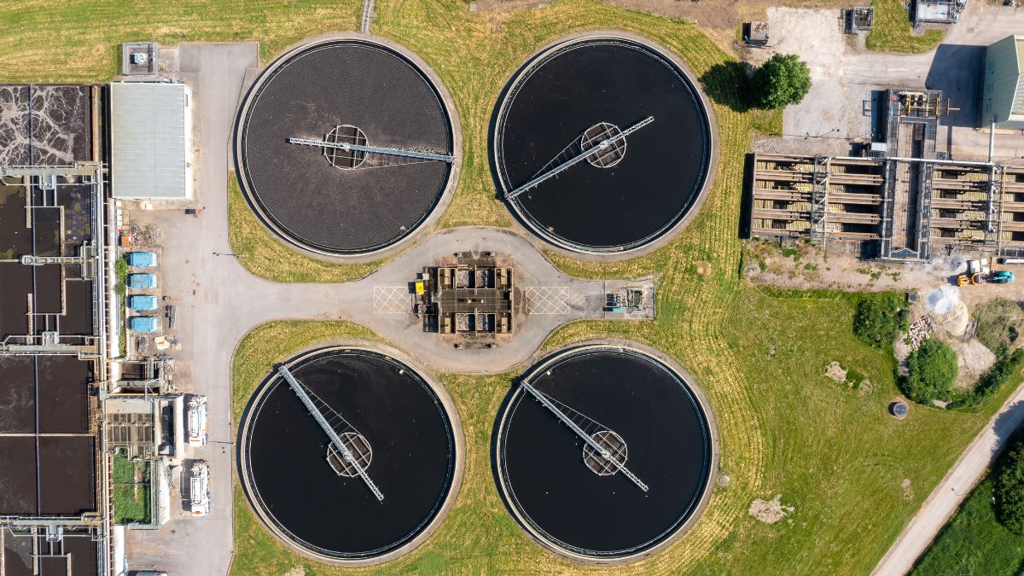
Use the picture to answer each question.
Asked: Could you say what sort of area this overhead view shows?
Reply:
industrial area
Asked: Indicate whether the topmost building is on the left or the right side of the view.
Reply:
right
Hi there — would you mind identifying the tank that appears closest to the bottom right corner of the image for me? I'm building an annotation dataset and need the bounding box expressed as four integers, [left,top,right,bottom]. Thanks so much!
[488,334,719,565]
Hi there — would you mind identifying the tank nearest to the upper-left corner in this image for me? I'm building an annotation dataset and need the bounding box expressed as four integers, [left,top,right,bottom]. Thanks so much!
[233,32,463,263]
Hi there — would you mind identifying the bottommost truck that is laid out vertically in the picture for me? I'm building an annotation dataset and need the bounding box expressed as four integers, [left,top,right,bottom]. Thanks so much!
[192,461,213,514]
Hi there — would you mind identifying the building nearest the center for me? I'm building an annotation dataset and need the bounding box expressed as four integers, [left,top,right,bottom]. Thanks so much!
[423,265,513,334]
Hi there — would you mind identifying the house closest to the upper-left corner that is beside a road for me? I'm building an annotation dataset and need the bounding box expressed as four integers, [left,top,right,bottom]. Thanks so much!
[112,82,192,200]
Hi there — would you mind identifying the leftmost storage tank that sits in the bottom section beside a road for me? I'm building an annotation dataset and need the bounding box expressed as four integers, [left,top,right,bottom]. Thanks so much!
[237,337,467,567]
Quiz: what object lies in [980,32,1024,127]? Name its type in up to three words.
building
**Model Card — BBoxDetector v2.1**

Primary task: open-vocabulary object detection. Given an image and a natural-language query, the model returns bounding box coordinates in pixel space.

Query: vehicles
[978,273,1015,284]
[192,461,213,514]
[141,571,167,576]
[957,273,983,285]
[190,394,211,446]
